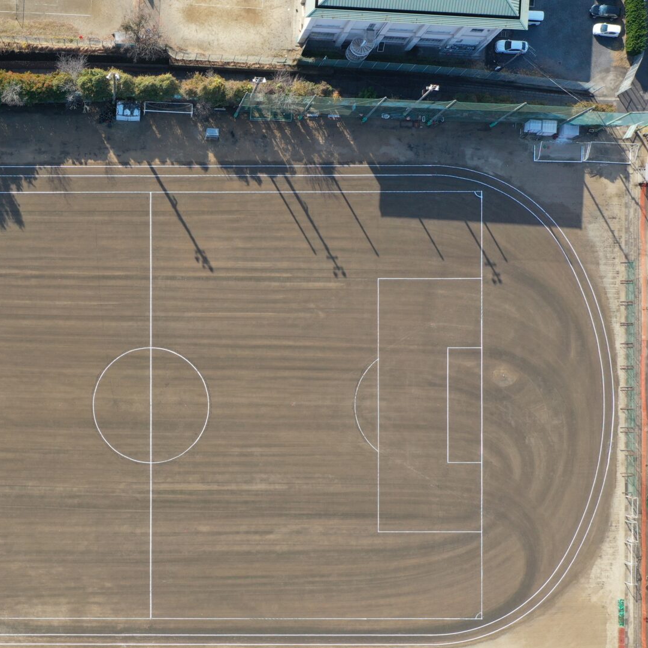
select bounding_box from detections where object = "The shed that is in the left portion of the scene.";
[115,97,140,121]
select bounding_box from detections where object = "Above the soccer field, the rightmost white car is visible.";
[593,21,622,37]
